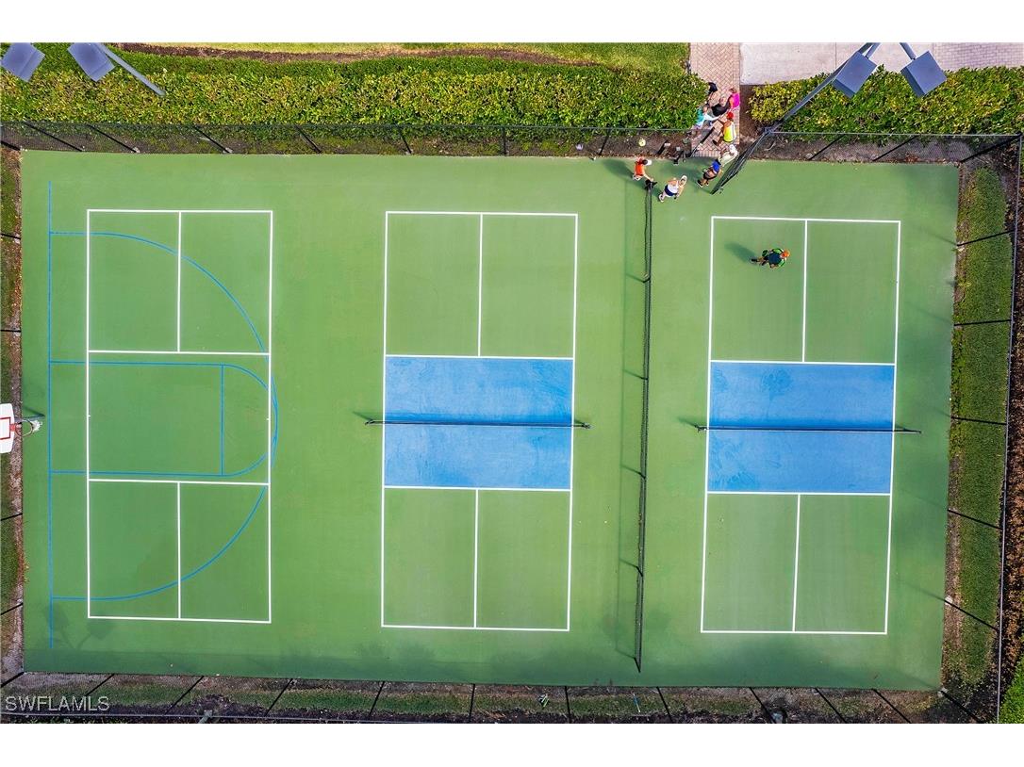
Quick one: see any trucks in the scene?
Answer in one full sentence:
No, no truck is visible in the scene.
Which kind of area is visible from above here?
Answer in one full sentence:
The area seen from above is a sports ground.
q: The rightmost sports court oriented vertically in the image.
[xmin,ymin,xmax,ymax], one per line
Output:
[700,216,901,636]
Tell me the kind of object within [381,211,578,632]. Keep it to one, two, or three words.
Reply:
sports court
